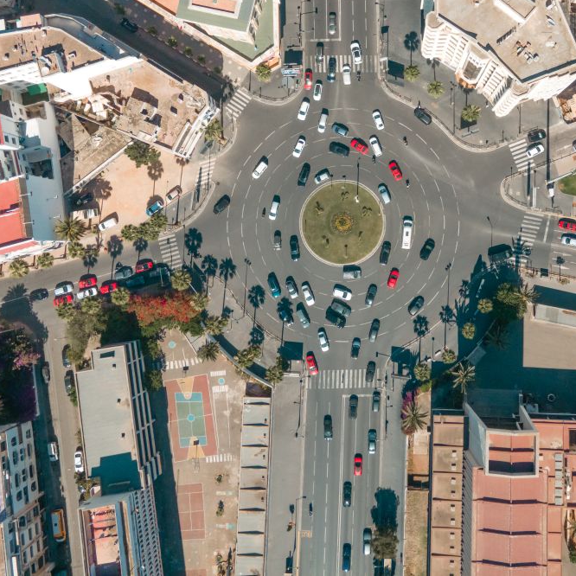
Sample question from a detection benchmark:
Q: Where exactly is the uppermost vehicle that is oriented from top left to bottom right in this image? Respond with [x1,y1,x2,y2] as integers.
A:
[120,17,139,32]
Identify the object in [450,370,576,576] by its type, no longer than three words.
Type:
building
